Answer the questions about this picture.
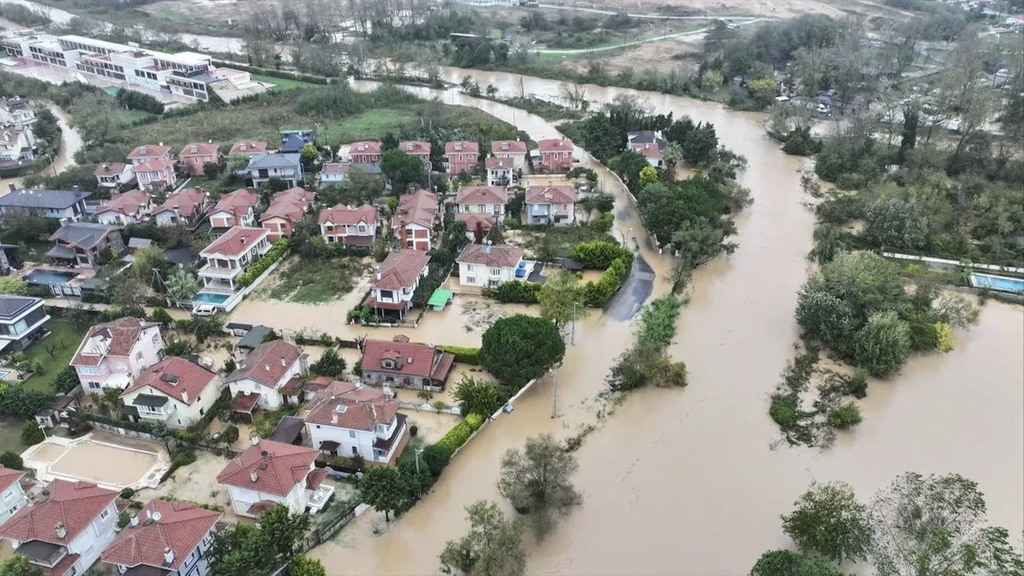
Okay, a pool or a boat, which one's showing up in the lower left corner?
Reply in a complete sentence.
You can see a pool in the lower left corner.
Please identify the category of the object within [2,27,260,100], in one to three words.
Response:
building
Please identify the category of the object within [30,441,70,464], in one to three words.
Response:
swimming pool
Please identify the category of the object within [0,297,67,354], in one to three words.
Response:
house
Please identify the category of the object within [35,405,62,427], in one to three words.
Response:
shed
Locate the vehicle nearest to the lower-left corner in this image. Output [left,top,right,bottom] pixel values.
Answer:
[190,302,217,314]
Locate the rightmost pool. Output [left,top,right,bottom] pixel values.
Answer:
[972,274,1024,296]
